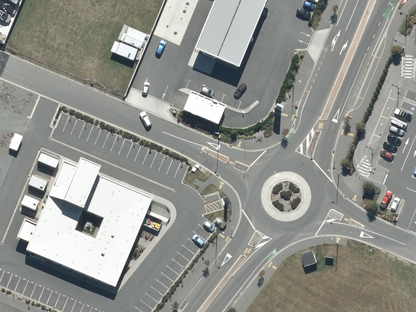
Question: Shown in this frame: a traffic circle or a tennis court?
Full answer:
Visible in the photo is a traffic circle.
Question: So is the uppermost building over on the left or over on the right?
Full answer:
The uppermost building appears in the left half of the scene.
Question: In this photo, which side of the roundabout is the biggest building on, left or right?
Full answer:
You can see the biggest building positioned to the left of the roundabout.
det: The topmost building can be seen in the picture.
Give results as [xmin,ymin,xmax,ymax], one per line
[118,25,149,50]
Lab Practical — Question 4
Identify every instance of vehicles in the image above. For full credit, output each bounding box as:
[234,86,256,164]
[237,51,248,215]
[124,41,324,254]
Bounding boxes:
[382,142,398,153]
[192,236,205,248]
[391,198,400,212]
[302,2,316,11]
[198,86,216,99]
[143,82,150,96]
[140,112,152,129]
[386,135,402,146]
[202,222,216,234]
[296,10,312,20]
[380,191,392,209]
[260,4,270,20]
[389,126,406,137]
[156,40,165,56]
[234,84,246,98]
[381,151,395,160]
[390,118,408,130]
[394,110,412,121]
